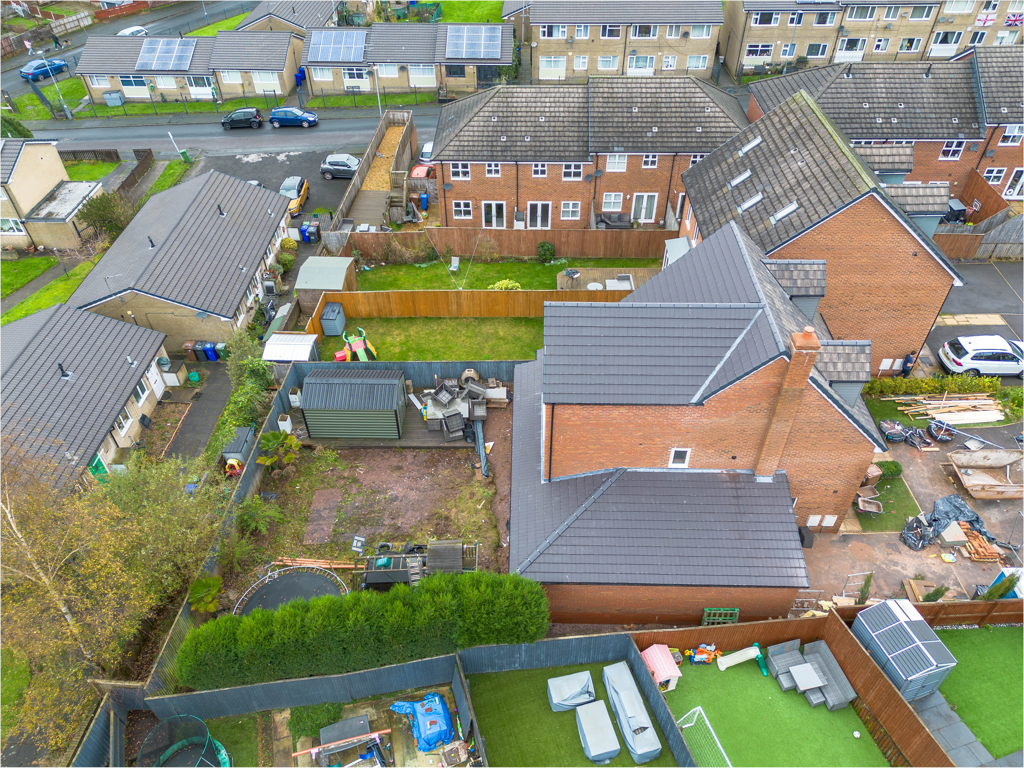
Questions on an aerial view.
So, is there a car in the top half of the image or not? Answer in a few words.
Yes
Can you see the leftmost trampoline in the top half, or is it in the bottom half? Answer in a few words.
bottom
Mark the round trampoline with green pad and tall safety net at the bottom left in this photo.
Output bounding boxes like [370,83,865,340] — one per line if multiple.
[131,710,242,768]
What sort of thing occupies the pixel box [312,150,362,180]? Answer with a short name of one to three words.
car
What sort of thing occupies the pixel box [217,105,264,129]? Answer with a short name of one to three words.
car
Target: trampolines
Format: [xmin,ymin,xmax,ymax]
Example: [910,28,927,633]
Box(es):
[230,557,345,635]
[131,710,242,768]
